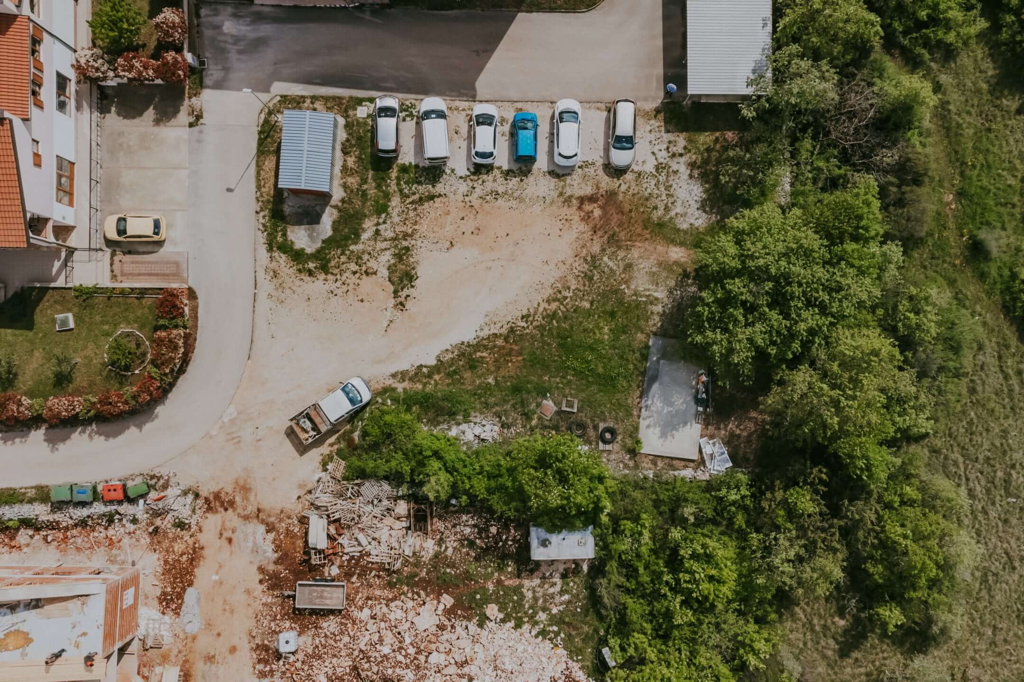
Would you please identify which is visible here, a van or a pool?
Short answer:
van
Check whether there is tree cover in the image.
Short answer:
Yes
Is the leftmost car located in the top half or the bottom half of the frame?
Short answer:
top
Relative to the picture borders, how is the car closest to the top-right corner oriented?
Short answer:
vertically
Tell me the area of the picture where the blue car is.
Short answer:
top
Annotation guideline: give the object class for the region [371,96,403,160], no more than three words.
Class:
car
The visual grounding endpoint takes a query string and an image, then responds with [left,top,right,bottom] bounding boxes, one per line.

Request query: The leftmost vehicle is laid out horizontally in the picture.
[100,212,165,244]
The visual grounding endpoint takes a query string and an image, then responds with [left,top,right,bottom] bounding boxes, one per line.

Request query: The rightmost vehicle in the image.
[608,98,641,168]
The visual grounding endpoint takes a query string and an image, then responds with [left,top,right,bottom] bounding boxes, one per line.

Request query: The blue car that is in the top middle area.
[511,111,540,163]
